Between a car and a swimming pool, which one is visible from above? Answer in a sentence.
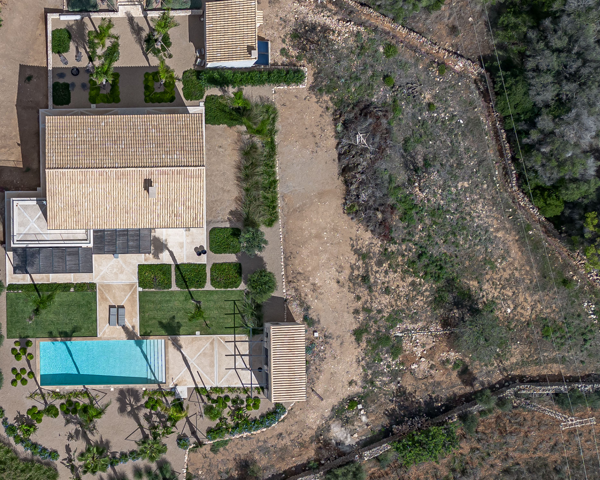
The one in the frame is a swimming pool.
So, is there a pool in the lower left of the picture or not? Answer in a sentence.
Yes, a pool appears in the lower left of the picture.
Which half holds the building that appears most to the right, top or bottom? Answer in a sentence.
The bottom half of the photo is where the building that appears most to the right is.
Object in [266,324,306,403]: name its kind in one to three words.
building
